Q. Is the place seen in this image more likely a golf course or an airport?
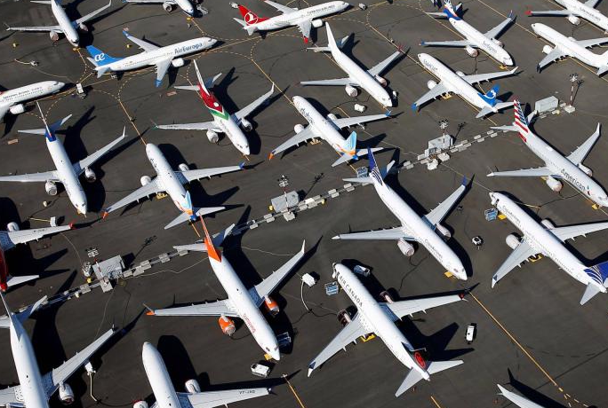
airport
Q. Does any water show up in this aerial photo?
No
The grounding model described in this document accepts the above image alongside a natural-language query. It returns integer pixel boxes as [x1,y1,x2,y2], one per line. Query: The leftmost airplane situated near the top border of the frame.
[2,0,117,50]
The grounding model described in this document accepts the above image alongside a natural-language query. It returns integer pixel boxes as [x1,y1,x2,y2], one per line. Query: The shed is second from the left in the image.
[263,186,300,216]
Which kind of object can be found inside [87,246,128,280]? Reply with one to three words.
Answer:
shed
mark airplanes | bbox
[269,98,390,168]
[421,0,515,66]
[0,82,70,133]
[151,61,278,155]
[527,0,608,35]
[531,25,608,75]
[0,218,80,291]
[306,267,466,398]
[332,150,467,278]
[130,343,274,408]
[295,24,403,107]
[412,58,516,118]
[144,218,308,358]
[2,0,117,50]
[490,195,608,304]
[100,145,247,230]
[488,101,608,206]
[87,29,220,88]
[0,290,123,408]
[0,106,132,210]
[233,0,348,44]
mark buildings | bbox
[422,130,456,156]
[532,95,560,118]
[87,246,128,280]
[263,186,300,216]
